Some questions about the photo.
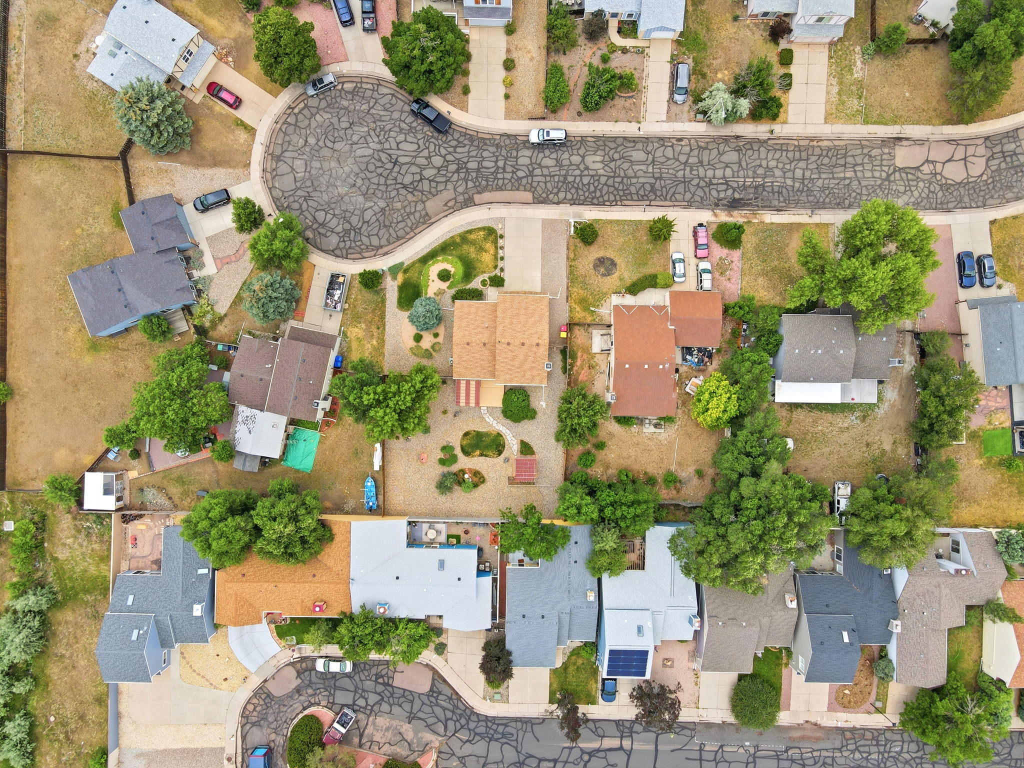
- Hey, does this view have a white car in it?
Yes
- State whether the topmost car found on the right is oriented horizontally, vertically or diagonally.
vertically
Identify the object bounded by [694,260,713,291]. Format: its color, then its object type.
white car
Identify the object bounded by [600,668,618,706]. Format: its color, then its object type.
blue car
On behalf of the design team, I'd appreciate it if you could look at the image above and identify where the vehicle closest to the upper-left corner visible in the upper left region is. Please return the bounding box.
[206,80,245,114]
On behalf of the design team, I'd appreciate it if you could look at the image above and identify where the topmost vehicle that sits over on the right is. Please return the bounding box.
[671,62,691,105]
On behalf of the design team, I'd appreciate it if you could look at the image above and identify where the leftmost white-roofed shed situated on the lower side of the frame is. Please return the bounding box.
[83,471,127,510]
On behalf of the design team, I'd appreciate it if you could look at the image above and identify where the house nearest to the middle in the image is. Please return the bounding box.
[444,292,558,407]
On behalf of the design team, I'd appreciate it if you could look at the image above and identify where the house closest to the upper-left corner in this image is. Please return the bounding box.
[86,0,219,93]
